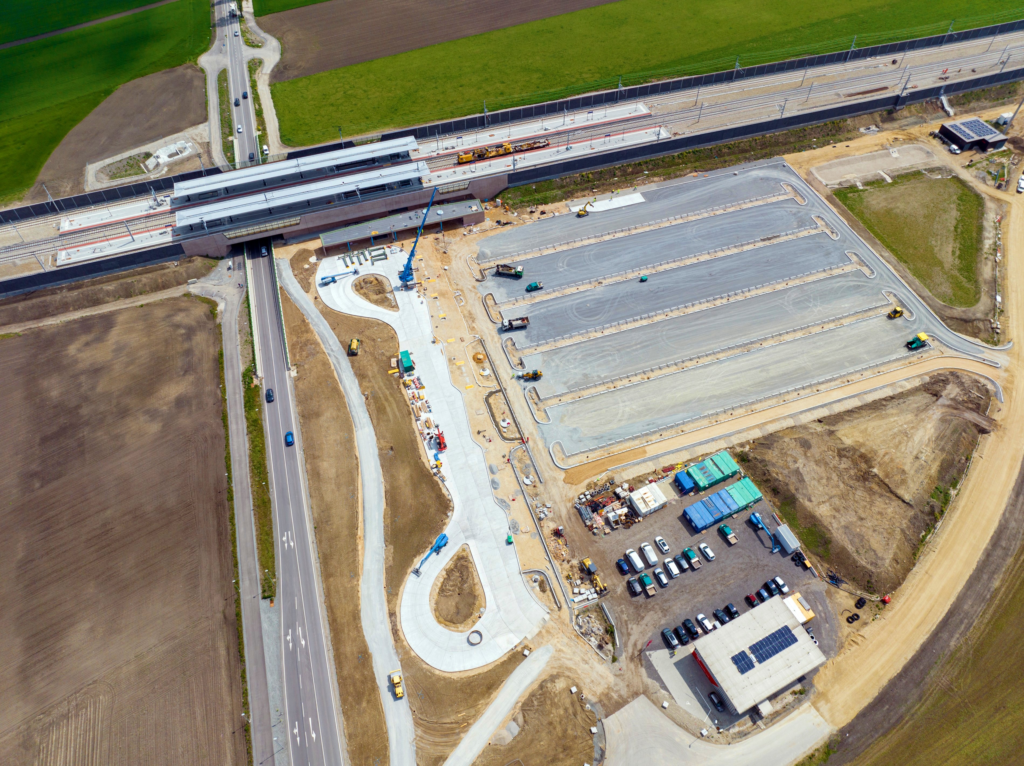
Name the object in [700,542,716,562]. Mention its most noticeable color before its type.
white car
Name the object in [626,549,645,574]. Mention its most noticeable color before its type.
white vehicle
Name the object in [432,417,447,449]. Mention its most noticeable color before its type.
red work vehicle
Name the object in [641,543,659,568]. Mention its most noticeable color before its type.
white vehicle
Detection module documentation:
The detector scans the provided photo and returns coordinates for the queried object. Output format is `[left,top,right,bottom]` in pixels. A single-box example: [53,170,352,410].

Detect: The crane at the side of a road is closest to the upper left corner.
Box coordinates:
[395,186,443,292]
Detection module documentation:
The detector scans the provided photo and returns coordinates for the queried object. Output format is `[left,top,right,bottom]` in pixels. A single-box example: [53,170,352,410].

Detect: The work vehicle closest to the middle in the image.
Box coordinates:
[520,369,540,381]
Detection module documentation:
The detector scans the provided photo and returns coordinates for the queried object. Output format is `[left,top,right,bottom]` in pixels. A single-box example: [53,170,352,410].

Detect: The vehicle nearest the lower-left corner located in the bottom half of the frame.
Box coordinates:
[388,665,406,700]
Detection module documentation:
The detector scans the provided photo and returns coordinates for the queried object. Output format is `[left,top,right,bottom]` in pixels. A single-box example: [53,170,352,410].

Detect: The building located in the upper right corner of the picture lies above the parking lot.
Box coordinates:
[939,117,1008,150]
